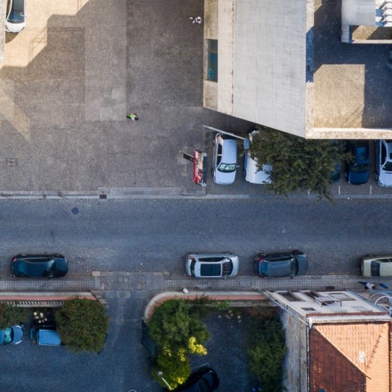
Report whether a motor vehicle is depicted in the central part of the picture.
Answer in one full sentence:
Yes, a motor vehicle shows up in the central part of the picture.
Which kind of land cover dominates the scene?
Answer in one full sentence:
The bulk of the photo consists of paved ground.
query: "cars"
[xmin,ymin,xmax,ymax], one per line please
[6,0,31,33]
[30,322,77,352]
[211,131,242,186]
[0,323,28,351]
[183,251,240,281]
[252,249,308,279]
[345,139,374,186]
[174,361,222,392]
[359,252,392,277]
[373,139,392,187]
[10,253,68,282]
